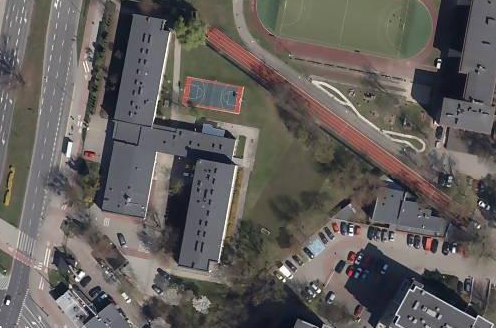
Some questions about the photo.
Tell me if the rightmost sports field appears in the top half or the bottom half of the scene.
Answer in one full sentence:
The rightmost sports field is in the top half of the image.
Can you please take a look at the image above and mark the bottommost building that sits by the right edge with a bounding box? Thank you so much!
[394,286,495,328]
